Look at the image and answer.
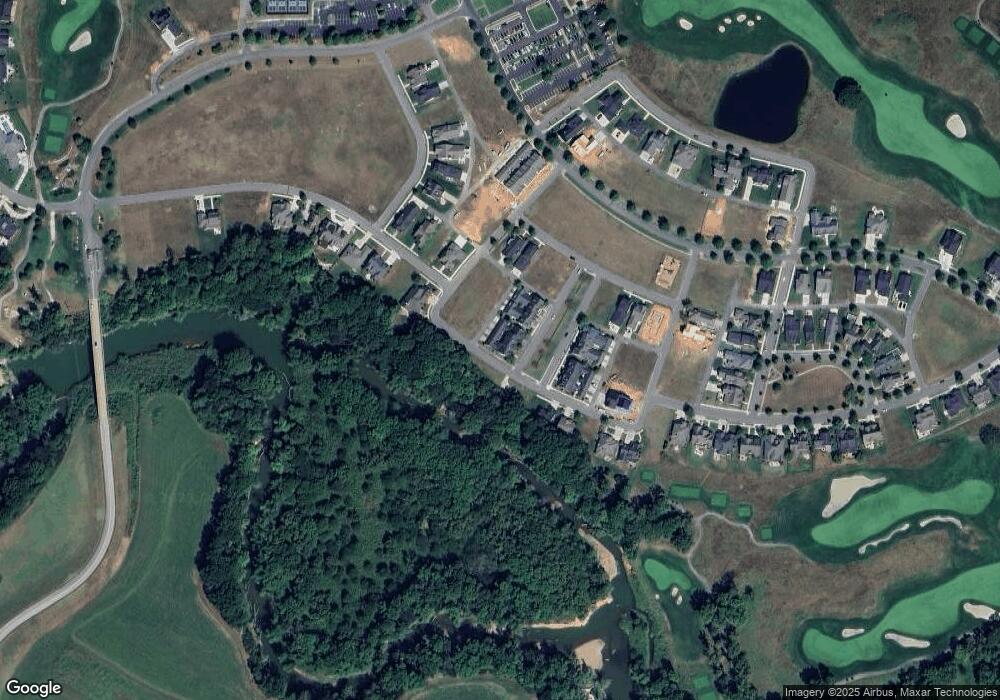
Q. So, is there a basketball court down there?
No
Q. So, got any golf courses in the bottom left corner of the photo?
No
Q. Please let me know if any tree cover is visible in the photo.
Yes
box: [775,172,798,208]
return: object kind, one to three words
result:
house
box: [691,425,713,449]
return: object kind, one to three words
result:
house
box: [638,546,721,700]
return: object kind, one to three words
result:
golf course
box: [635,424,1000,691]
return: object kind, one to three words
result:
golf course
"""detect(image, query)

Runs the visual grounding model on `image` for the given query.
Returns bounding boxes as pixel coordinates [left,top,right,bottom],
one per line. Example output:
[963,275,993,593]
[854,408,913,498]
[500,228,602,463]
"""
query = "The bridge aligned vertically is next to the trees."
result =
[89,299,108,420]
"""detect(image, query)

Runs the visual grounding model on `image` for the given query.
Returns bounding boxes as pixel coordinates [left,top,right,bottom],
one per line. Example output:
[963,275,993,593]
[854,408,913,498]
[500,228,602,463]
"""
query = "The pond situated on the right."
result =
[714,45,811,143]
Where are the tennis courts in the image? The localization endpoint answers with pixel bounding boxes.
[287,0,308,15]
[267,0,287,15]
